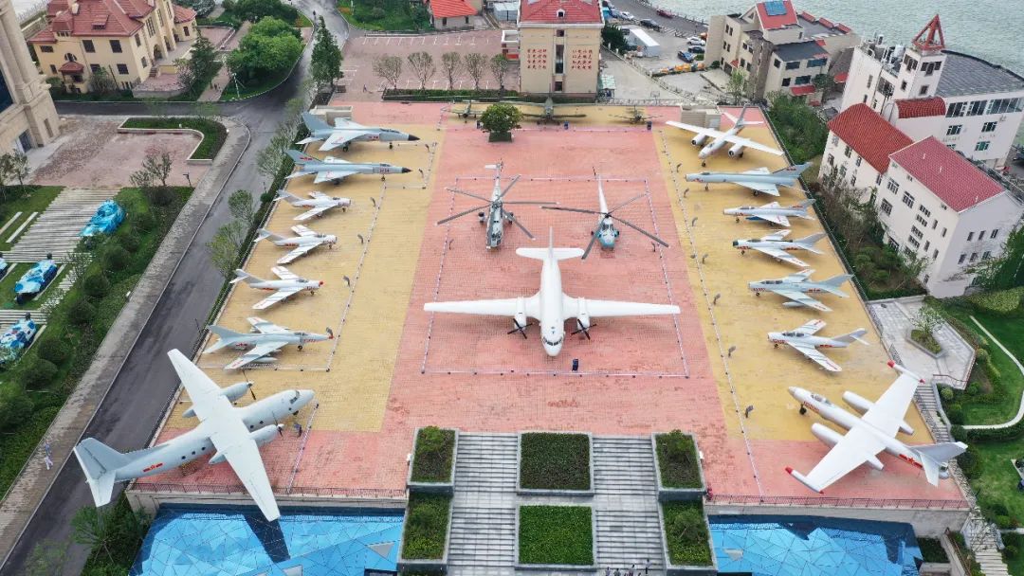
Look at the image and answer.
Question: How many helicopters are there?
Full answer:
The count of helicopters comes to 2.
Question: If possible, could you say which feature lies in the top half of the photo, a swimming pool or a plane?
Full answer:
Looking in the top half of the photo, you will find a plane.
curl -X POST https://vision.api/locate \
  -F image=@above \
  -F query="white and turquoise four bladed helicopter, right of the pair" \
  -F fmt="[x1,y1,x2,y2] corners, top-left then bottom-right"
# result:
[537,164,665,258]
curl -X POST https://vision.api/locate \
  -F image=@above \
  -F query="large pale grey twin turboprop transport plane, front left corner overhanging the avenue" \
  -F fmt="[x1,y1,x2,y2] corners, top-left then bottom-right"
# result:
[69,343,316,518]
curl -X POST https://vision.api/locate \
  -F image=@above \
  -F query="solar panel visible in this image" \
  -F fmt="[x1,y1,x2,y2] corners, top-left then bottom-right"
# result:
[765,2,789,20]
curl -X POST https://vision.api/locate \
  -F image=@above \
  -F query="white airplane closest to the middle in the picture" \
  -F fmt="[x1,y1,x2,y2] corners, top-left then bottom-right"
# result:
[425,221,680,360]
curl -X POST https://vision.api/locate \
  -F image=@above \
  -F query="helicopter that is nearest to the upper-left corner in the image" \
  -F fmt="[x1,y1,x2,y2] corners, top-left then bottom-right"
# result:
[442,158,556,251]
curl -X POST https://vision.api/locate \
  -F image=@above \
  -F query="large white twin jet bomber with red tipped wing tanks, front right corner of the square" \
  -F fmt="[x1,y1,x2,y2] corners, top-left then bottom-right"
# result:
[778,364,968,498]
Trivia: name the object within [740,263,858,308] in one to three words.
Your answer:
airplane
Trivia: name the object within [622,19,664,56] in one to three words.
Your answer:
shed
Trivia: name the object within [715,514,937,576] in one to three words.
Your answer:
swimming pool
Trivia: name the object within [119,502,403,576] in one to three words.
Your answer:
swimming pool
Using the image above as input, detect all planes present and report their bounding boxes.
[69,343,316,518]
[277,183,353,217]
[257,220,339,257]
[439,99,480,124]
[768,311,871,365]
[778,364,968,498]
[740,263,858,308]
[730,226,830,264]
[667,101,776,163]
[206,312,332,361]
[232,259,325,305]
[514,100,596,133]
[683,160,812,195]
[287,151,414,187]
[425,221,680,360]
[721,196,815,226]
[297,114,420,155]
[608,98,663,128]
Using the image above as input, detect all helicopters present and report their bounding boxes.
[442,158,556,251]
[537,164,665,258]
